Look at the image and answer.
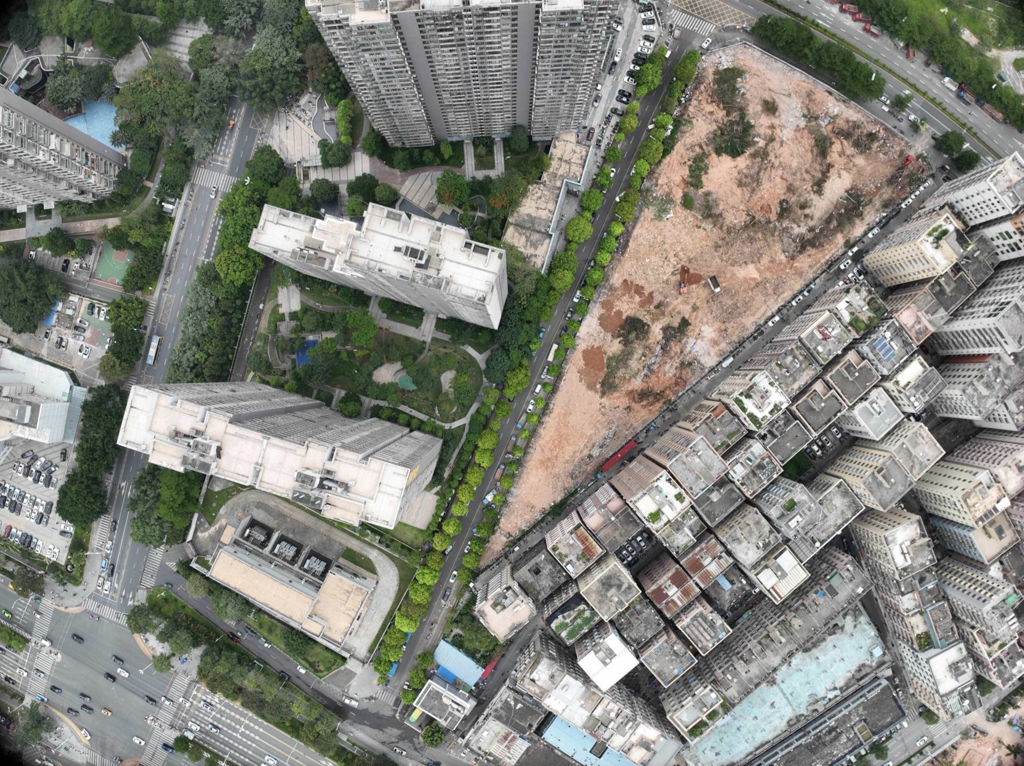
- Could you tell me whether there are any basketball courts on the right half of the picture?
No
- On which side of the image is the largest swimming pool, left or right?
left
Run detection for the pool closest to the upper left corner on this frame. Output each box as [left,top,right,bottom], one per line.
[70,100,125,150]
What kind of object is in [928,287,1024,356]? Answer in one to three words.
building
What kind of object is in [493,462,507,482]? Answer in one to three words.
vehicle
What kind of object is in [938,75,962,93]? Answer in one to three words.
vehicle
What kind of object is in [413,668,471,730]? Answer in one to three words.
house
